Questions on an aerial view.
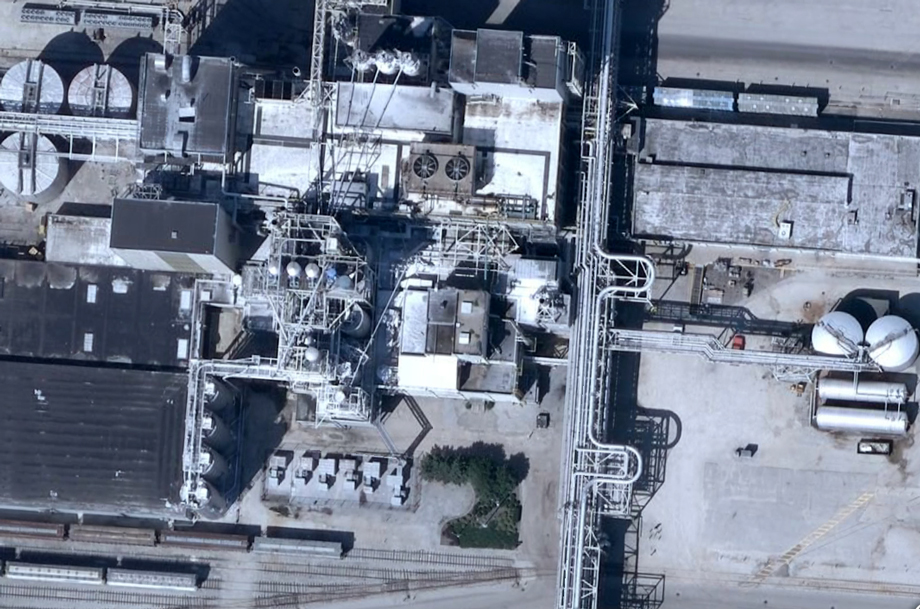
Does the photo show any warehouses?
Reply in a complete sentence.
Yes, the image includes a warehouse.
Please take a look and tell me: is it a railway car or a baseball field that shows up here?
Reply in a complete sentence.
It is a railway car that can be seen here.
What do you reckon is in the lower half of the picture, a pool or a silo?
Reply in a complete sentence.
You can see a silo in the lower half of the picture.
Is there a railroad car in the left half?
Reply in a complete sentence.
Yes, a railroad car appears in the left half.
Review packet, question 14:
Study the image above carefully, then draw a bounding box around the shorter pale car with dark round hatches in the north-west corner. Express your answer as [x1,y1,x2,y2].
[21,7,80,27]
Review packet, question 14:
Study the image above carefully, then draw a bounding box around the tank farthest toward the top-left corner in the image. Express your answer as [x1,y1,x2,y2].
[1,54,72,113]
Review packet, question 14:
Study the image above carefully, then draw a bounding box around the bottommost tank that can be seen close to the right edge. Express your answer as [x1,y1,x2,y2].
[816,393,909,435]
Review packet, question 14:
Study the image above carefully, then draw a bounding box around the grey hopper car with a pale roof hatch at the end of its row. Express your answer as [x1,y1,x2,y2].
[253,536,345,559]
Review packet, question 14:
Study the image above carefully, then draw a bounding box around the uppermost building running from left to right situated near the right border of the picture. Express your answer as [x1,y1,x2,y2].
[633,118,920,272]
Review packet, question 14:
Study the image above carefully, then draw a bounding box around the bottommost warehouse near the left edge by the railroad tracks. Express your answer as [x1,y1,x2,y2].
[0,365,188,524]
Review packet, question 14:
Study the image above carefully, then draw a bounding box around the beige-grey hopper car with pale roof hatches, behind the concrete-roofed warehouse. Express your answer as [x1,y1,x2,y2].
[737,94,821,117]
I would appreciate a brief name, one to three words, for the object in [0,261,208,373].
warehouse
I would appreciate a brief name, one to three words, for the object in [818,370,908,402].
storage tank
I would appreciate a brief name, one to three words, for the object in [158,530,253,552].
rail car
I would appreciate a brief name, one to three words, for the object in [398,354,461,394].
building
